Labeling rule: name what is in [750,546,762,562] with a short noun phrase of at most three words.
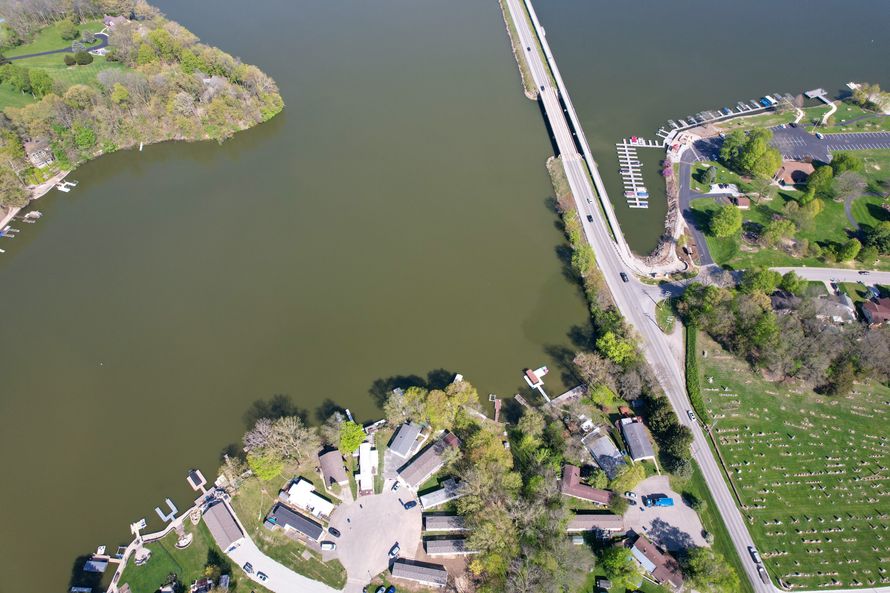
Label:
vehicle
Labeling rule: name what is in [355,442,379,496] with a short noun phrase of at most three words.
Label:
house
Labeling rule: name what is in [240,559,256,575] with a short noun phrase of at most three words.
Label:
vehicle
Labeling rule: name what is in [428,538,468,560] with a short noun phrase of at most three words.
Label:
house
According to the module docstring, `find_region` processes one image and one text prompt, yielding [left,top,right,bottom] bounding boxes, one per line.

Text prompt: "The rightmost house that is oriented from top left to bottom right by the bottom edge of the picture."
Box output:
[630,536,683,588]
